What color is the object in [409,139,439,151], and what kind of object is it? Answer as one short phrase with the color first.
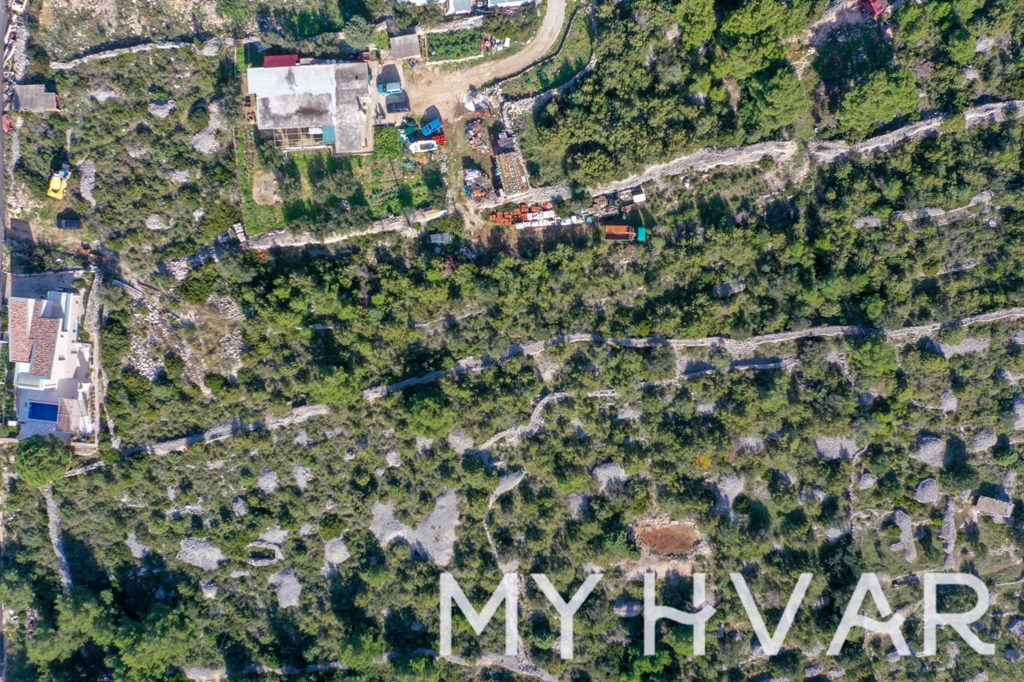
white boat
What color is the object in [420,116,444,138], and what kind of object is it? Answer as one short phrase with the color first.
blue car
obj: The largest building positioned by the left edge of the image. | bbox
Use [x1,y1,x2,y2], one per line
[9,292,91,392]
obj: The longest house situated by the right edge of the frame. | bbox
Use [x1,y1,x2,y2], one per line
[967,494,1014,523]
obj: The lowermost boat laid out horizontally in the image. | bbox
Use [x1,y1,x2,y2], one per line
[419,210,447,223]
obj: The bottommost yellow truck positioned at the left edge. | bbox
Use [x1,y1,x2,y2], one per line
[48,163,75,202]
